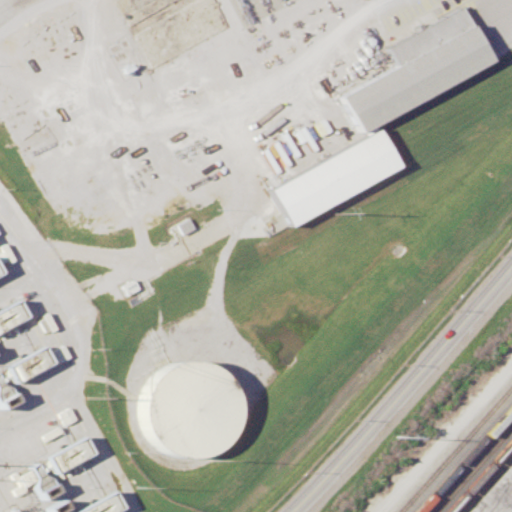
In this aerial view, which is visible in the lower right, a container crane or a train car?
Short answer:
train car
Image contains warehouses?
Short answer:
Yes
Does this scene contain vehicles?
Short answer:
Yes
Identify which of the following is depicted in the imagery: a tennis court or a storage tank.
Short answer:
storage tank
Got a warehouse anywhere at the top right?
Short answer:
Yes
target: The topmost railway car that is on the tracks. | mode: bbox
[488,406,512,438]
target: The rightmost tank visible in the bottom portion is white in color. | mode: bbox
[128,362,246,460]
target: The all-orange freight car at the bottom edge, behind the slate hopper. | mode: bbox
[414,492,440,512]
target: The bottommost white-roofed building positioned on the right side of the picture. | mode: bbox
[268,130,406,228]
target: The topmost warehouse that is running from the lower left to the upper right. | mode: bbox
[339,8,500,131]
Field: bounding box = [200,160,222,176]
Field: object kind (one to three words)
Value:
vehicle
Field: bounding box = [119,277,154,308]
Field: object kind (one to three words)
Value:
shed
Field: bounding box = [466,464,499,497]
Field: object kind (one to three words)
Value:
rail car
